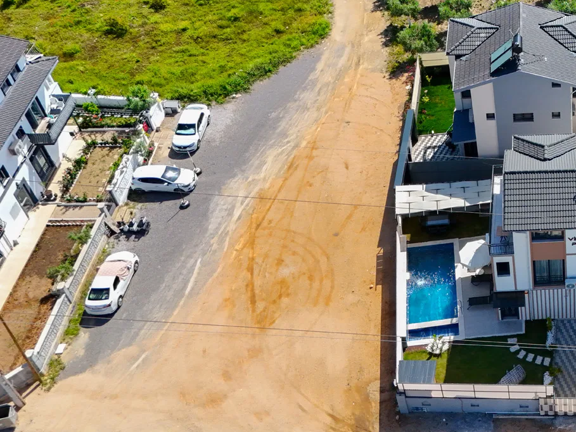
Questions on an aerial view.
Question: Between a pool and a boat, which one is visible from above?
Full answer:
The one in the frame is a pool.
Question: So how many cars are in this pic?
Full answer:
The number of cars here is 3.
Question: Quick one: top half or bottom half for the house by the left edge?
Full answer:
Seen from above, the house by the left edge lies in the top half of the view.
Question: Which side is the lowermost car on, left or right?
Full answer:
The lowermost car sits on the left side.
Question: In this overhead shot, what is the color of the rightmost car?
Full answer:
The rightmost car looks white in the image.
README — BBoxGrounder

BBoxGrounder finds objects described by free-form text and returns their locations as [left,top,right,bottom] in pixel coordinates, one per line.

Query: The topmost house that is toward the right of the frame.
[444,0,576,176]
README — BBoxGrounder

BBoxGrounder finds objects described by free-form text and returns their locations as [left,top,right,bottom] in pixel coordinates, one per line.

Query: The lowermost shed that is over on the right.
[399,358,438,386]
